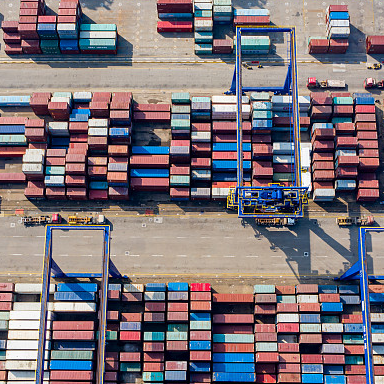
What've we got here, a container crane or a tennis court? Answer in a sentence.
I can see a container crane in this picture.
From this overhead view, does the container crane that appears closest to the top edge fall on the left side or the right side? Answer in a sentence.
It is on the right.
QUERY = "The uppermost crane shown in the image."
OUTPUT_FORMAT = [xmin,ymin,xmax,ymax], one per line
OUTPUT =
[224,22,316,226]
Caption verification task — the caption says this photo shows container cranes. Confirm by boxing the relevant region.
[32,221,127,384]
[224,22,316,226]
[334,222,384,384]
